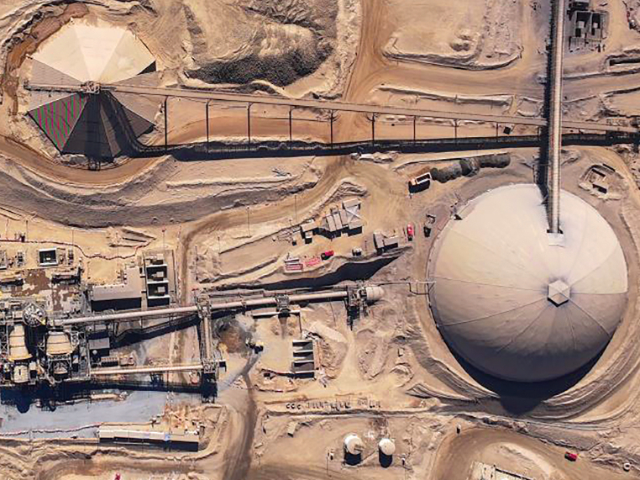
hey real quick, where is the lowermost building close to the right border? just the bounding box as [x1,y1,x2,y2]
[431,186,629,381]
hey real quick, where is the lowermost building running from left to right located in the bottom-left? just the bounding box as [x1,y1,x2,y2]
[97,425,198,440]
